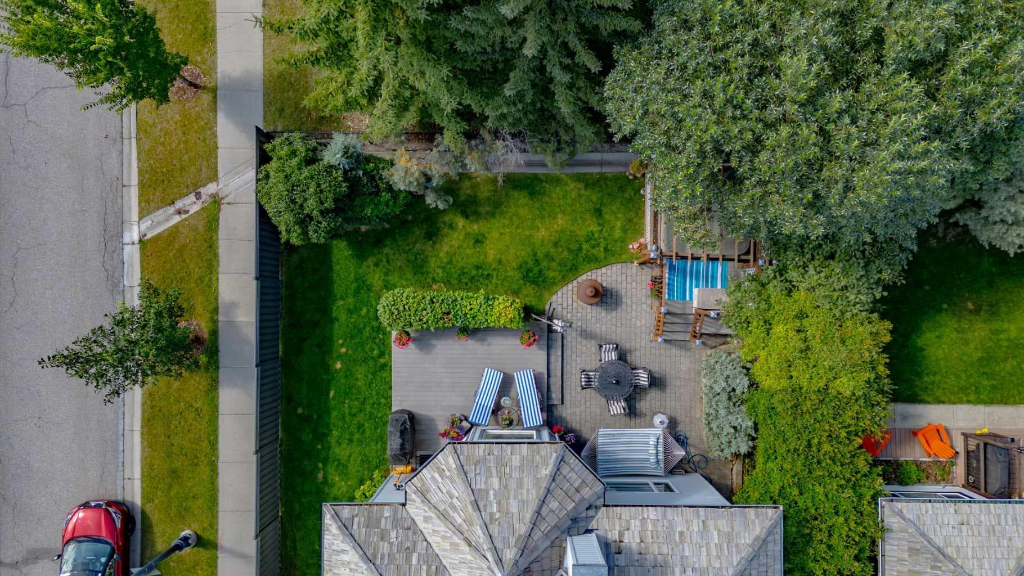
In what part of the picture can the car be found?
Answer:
bottom left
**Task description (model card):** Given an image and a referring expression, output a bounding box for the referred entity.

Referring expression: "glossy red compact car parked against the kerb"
[49,497,134,576]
